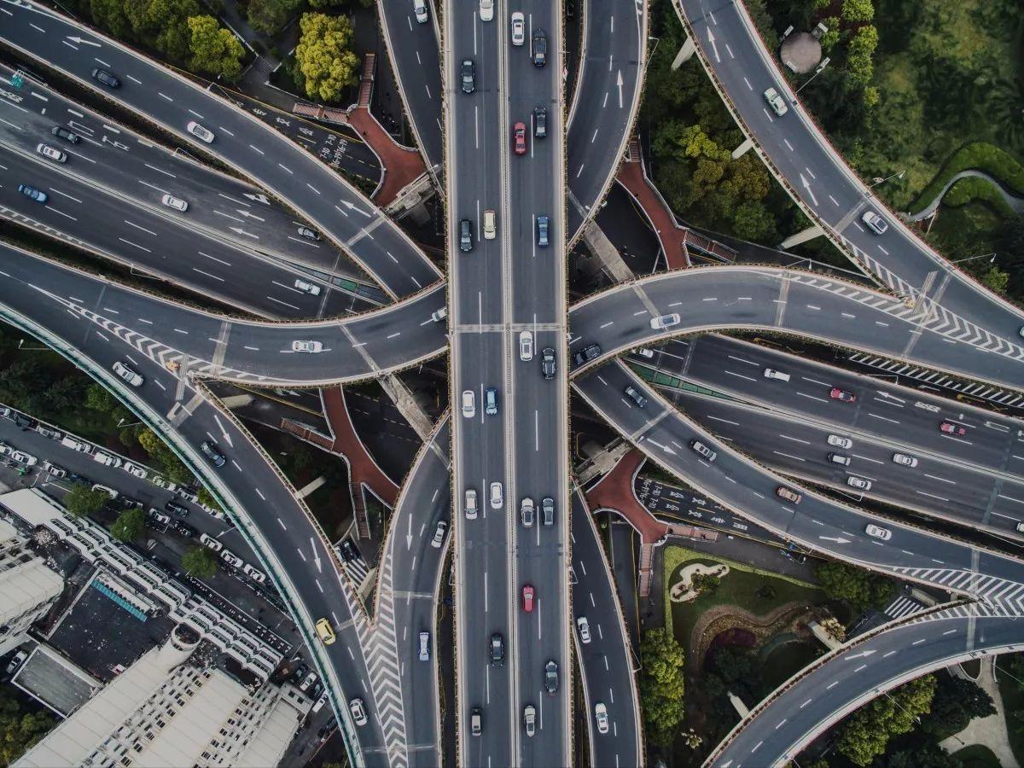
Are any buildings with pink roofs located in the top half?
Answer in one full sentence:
No, in the top half there is no building with a pink roof.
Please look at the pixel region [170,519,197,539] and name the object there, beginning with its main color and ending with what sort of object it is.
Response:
black car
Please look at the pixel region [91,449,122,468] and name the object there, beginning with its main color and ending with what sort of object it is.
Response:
white vehicle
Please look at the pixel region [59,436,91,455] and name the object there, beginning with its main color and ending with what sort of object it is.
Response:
white vehicle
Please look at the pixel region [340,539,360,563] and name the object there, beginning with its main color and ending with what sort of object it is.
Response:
black car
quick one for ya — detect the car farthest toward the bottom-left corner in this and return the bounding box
[5,647,30,673]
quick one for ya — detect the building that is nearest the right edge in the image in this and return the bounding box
[779,33,820,75]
